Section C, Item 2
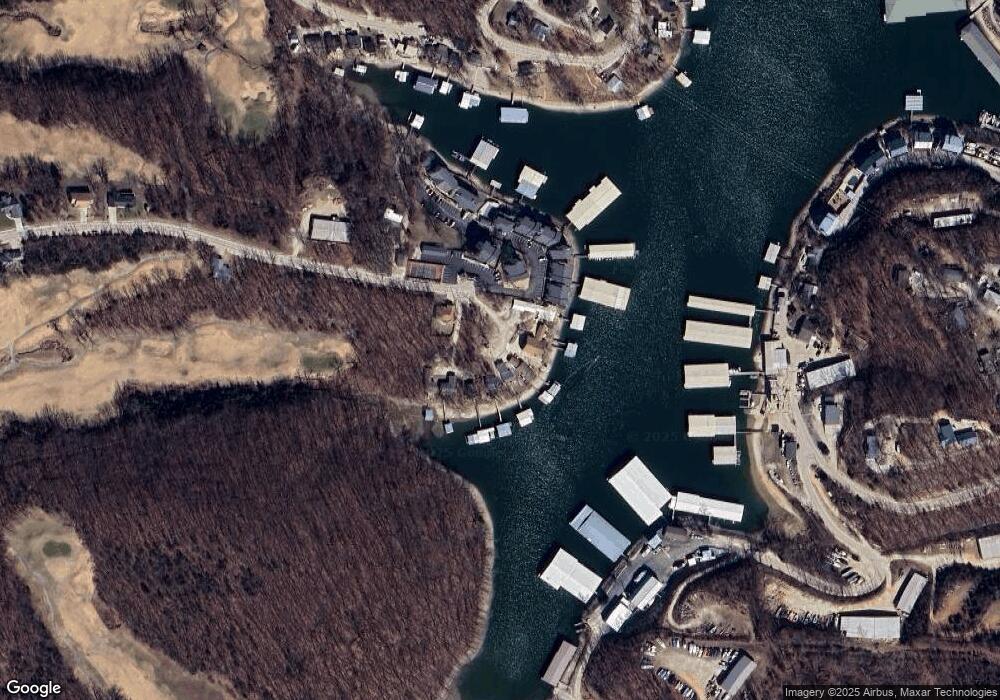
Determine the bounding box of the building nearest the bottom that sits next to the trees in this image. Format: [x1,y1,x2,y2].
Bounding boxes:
[720,655,758,699]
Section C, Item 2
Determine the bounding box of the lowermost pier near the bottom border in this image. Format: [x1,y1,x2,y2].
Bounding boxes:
[542,639,577,686]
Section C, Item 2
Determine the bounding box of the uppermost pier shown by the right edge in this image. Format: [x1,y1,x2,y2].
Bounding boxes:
[885,0,967,22]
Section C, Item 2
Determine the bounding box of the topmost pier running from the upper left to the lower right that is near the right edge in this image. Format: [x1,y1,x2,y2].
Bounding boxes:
[961,19,1000,84]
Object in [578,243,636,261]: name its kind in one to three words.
pier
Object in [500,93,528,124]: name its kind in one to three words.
pier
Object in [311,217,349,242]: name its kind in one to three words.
building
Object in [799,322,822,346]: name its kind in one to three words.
house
